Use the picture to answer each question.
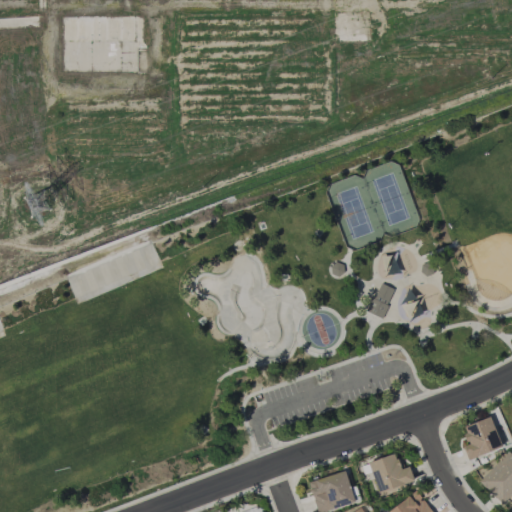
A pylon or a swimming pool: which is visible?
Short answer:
pylon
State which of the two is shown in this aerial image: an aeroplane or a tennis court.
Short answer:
tennis court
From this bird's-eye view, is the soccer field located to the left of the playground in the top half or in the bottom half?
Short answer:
bottom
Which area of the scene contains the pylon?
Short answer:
left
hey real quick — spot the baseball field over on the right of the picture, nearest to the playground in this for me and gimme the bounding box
[431,118,512,301]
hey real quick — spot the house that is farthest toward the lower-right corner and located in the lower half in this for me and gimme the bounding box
[482,454,512,504]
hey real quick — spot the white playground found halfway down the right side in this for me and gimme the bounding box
[376,245,444,327]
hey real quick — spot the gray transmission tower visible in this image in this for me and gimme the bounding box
[24,181,52,226]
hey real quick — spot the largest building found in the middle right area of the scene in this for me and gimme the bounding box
[370,281,398,319]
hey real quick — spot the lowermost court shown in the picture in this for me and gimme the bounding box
[304,311,340,349]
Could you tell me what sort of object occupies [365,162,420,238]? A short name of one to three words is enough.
tennis court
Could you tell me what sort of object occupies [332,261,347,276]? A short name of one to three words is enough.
gazebo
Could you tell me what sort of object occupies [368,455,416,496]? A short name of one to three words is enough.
house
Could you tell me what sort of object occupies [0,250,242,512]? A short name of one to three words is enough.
soccer field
